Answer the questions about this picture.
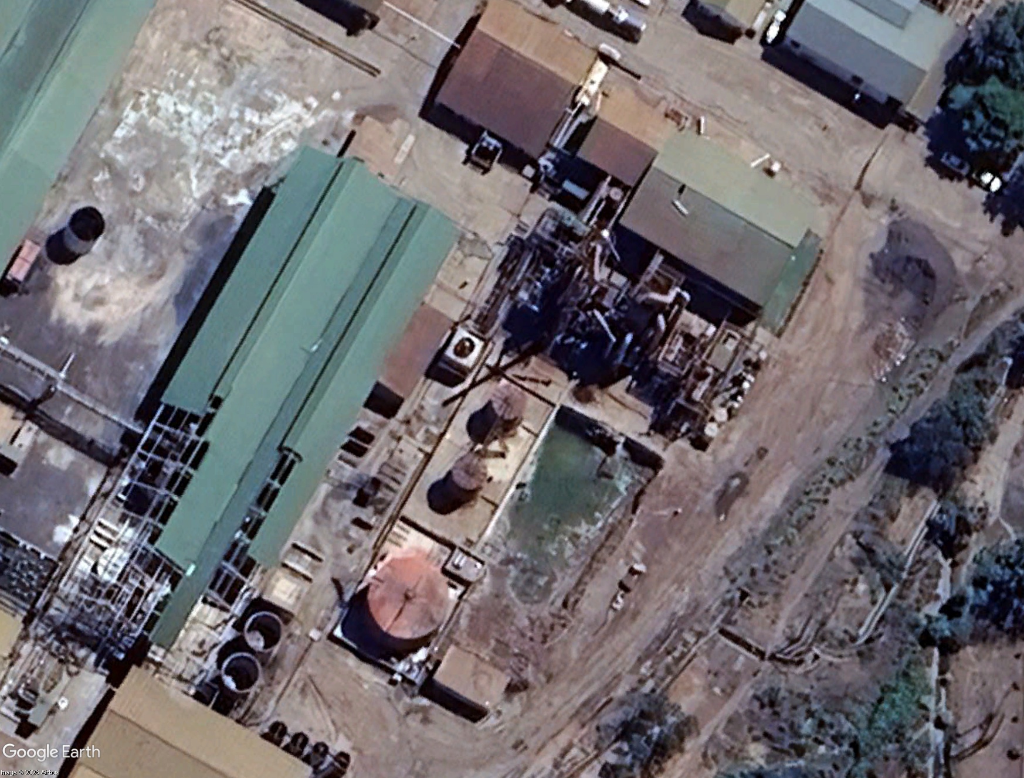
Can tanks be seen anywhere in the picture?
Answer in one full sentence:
Yes, the picture does show a tank.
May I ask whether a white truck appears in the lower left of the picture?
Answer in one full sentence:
No, there is no white truck in the lower left of the picture.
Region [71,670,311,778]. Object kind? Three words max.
building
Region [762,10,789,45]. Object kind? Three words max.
truck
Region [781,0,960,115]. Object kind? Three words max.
warehouse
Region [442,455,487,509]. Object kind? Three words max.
storage tank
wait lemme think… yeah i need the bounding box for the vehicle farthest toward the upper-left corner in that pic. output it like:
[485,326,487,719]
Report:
[0,240,42,292]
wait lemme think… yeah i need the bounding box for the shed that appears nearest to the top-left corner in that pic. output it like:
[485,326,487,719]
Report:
[0,0,165,261]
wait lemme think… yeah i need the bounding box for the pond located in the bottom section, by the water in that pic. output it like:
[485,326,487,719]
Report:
[493,403,666,571]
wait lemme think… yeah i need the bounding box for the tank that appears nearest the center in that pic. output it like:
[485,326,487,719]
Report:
[481,381,528,436]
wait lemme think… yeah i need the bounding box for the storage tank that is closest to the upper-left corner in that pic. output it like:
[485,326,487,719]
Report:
[63,207,105,253]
